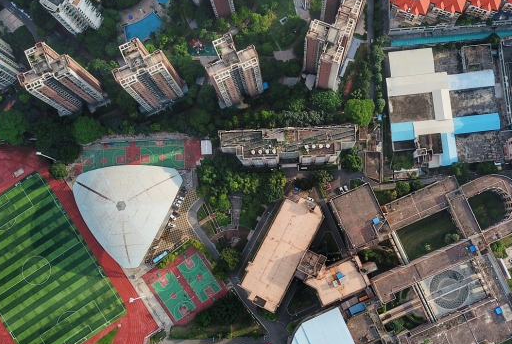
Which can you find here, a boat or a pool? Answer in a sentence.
The one in the frame is a pool.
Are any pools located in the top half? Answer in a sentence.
Yes, looking in the top half, one can make out a pool.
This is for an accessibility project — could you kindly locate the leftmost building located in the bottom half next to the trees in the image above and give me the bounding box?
[73,164,185,268]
